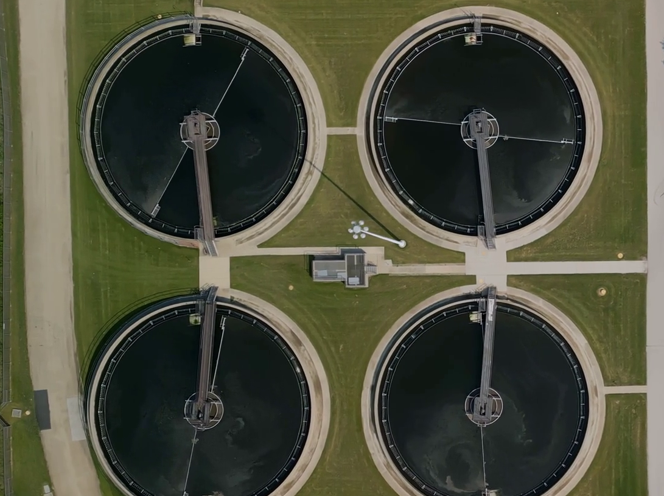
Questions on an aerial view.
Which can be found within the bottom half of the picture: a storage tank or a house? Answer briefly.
storage tank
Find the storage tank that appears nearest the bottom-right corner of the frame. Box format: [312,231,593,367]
[363,285,605,496]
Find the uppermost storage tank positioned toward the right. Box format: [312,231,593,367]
[357,8,601,252]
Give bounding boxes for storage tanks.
[357,8,601,252]
[87,288,329,496]
[83,10,324,253]
[363,285,605,496]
